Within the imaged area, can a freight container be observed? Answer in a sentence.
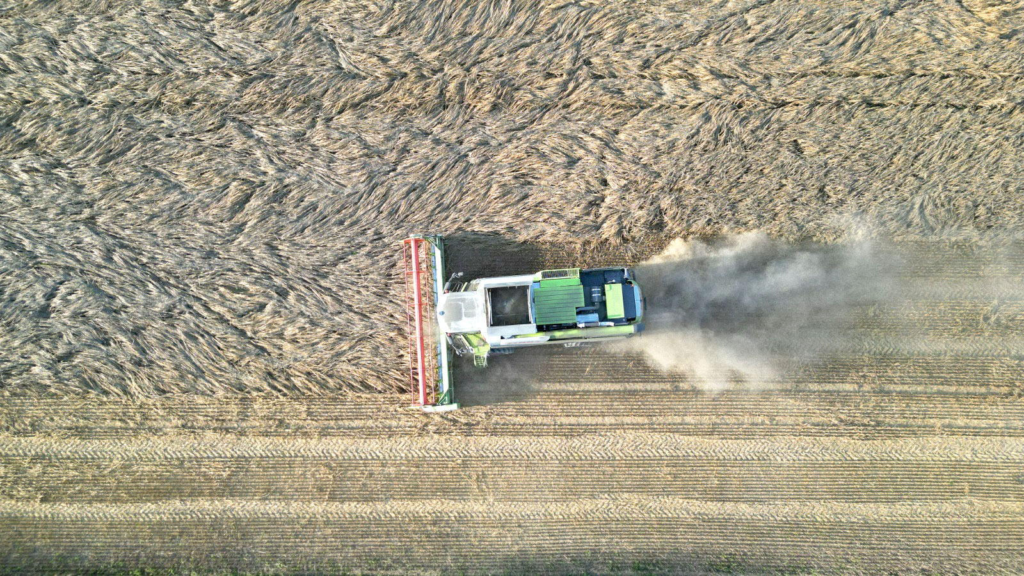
No, the scene contains no freight container.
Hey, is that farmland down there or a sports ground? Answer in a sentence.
The picture captures farmland.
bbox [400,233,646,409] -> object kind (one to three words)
work vehicle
